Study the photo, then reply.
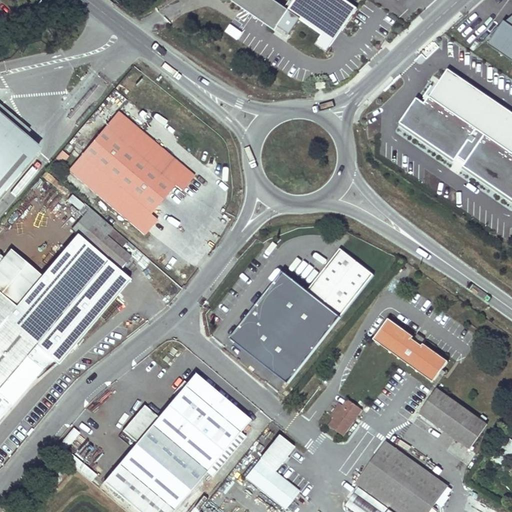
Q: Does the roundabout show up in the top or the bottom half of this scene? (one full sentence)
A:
It is in the top half that the roundabout appears.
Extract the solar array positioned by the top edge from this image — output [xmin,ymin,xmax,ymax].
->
[292,0,354,37]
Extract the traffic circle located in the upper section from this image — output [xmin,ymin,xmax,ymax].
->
[243,102,355,212]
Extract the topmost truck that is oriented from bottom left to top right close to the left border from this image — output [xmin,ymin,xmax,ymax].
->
[10,162,40,197]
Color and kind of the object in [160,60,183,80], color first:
white vehicle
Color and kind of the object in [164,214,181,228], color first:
white vehicle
